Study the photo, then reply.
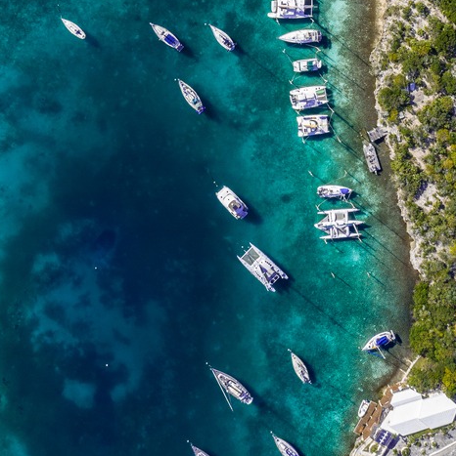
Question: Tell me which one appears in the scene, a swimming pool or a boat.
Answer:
boat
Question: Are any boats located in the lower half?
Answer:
Yes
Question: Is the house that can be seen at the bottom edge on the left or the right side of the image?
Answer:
right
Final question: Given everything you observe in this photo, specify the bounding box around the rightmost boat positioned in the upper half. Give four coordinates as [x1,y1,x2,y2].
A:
[363,142,382,174]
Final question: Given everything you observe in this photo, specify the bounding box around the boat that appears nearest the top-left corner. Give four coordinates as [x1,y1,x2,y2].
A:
[62,19,87,40]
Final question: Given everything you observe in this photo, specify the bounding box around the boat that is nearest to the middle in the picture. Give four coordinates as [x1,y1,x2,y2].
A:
[214,183,250,222]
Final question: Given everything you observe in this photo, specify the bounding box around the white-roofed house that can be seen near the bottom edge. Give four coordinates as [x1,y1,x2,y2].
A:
[381,388,456,436]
